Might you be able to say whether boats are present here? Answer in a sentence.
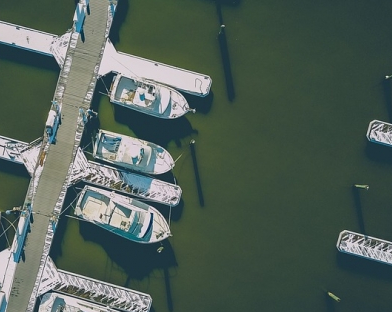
Yes, the frame does contain a boat.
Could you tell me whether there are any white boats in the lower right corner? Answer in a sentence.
No, there is no white boat in the lower right corner.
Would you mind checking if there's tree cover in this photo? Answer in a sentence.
No, there's no tree cover in this view.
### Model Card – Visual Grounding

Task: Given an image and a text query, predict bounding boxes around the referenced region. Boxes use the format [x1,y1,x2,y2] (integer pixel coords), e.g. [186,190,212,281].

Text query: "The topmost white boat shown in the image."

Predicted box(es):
[109,73,196,120]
